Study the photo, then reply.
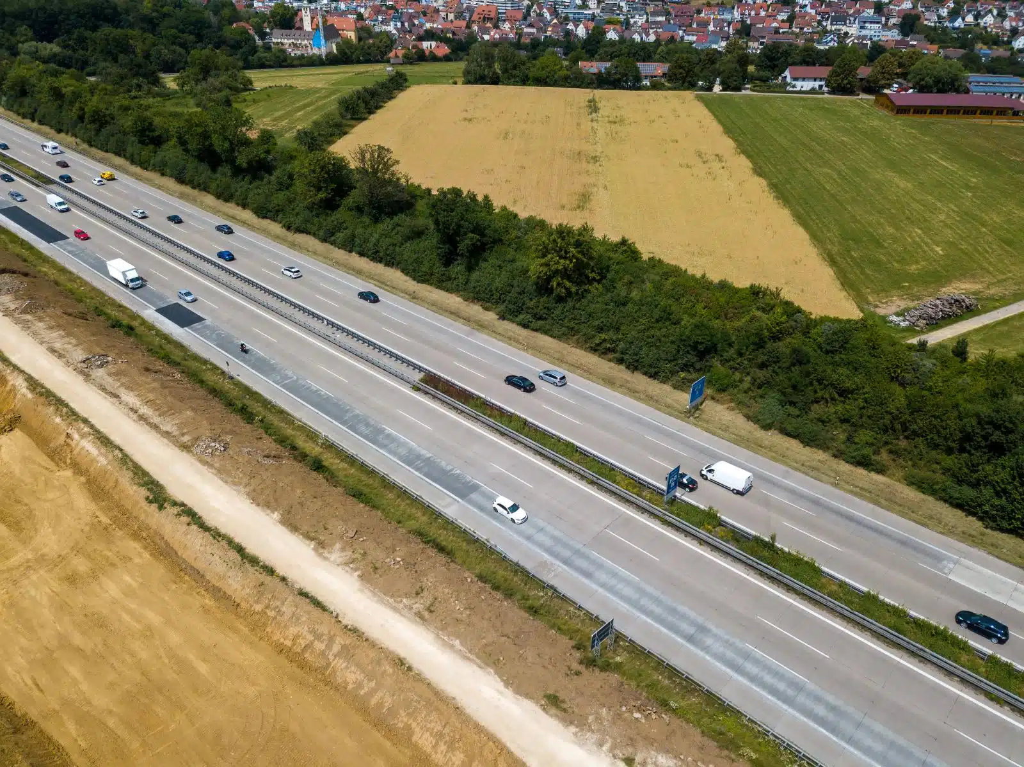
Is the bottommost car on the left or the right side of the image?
right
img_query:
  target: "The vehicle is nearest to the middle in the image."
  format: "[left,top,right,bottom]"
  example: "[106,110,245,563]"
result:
[506,375,538,394]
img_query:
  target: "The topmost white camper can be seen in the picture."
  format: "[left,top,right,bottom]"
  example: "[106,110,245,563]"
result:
[43,142,62,155]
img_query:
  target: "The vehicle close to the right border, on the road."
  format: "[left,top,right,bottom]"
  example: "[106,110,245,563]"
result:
[954,608,1014,646]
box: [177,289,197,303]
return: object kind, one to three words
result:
car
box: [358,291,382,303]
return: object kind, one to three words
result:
vehicle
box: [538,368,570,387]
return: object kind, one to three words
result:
car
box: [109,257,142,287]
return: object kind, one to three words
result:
truck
